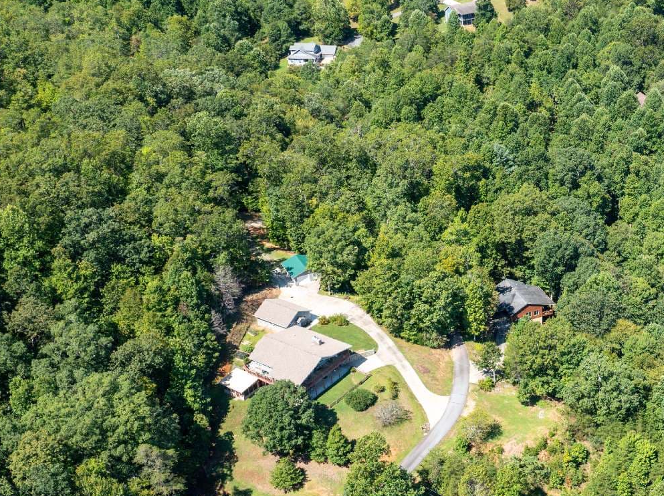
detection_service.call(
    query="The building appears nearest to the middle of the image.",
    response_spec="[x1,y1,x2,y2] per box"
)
[281,254,321,289]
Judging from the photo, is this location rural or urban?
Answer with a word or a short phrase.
rural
